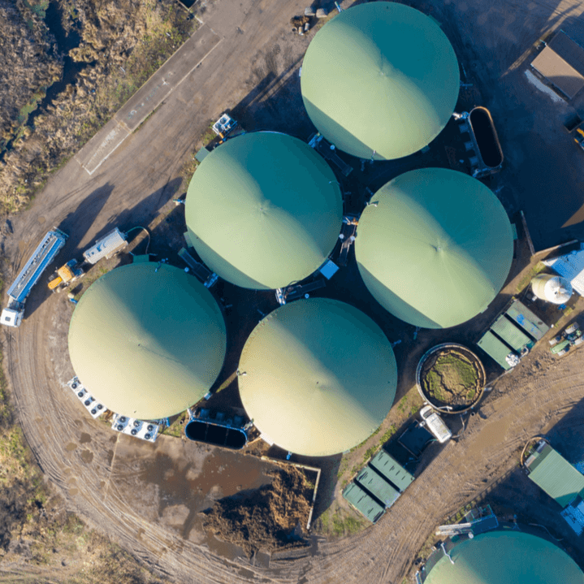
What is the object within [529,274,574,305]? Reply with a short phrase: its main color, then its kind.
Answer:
white silo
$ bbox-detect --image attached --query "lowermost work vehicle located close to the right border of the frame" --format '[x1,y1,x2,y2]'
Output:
[549,322,583,353]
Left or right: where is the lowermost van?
right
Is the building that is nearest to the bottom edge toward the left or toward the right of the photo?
right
